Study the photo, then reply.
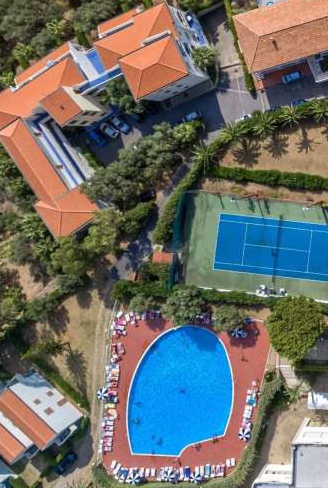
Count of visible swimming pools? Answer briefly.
1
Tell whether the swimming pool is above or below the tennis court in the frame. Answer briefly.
below it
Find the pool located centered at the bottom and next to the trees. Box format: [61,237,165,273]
[103,310,268,482]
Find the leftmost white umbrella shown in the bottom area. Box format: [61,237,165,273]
[96,387,109,400]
